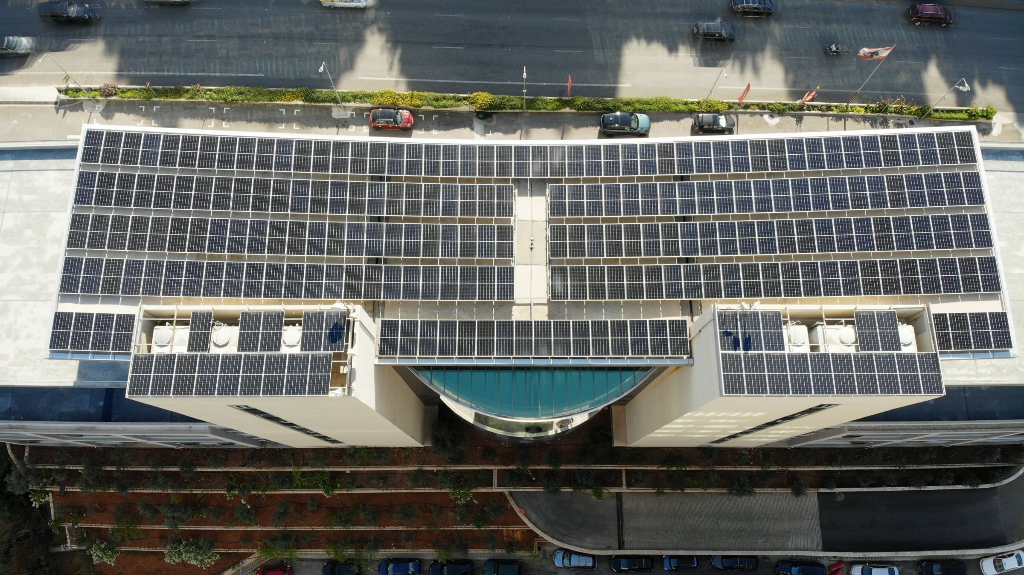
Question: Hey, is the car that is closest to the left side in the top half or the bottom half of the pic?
top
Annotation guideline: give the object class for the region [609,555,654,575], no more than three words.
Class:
car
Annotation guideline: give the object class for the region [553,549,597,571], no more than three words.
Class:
car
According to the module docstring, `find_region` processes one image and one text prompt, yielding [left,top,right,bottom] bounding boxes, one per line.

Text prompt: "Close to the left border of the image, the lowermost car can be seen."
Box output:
[0,35,41,60]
